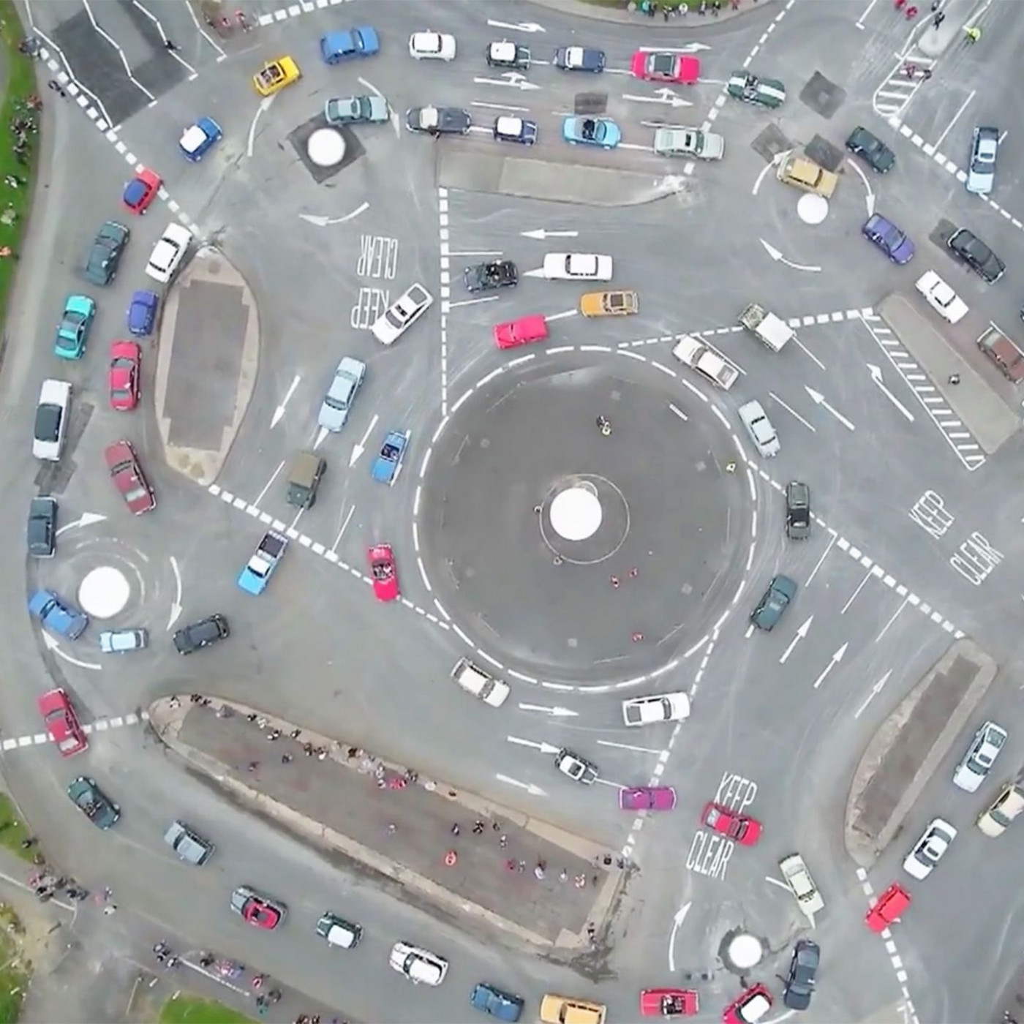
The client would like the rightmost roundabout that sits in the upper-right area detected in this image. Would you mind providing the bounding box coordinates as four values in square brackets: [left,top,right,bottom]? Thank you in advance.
[796,193,827,224]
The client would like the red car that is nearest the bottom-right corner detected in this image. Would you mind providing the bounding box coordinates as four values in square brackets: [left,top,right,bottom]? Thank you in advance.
[863,881,913,933]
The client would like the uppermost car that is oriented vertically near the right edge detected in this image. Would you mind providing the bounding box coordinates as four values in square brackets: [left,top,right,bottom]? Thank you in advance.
[964,126,998,193]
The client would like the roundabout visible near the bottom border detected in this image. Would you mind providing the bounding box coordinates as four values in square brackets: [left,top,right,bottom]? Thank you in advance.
[715,928,767,978]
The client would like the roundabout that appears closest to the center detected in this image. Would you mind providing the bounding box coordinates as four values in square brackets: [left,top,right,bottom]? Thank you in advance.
[414,345,757,690]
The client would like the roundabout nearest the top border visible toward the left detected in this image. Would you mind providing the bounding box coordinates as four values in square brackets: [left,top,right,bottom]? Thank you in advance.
[287,111,366,183]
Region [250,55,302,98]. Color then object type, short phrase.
yellow car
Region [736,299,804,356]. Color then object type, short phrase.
white vehicle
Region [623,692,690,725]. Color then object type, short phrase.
white car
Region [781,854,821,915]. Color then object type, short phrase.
white car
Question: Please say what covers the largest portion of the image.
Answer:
paved ground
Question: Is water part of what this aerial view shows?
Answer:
No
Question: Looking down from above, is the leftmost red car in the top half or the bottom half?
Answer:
bottom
